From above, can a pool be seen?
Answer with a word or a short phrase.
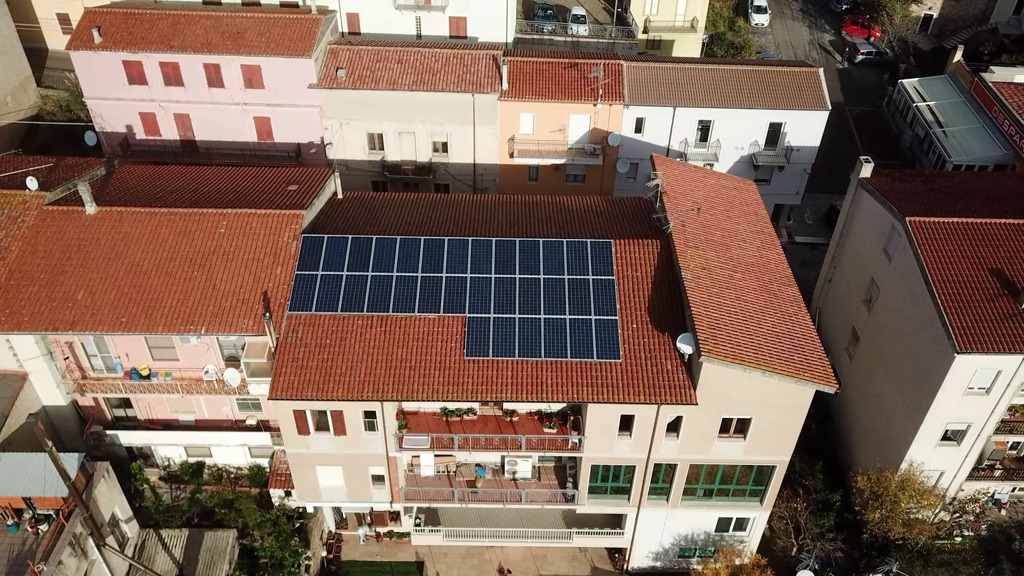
No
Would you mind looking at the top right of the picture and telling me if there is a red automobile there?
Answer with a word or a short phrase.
Yes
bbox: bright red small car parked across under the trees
[842,16,881,39]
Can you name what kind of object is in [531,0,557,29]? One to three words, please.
car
